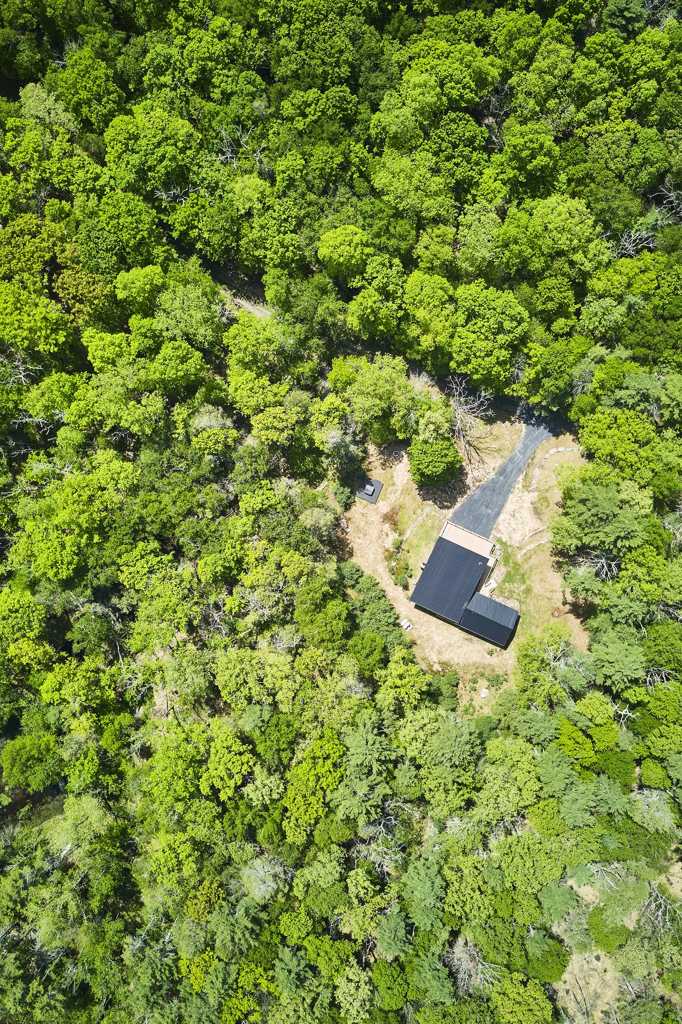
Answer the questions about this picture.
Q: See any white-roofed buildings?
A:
No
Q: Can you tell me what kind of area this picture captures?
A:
forest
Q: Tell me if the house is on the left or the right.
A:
right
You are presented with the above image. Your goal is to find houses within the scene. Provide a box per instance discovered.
[410,522,518,646]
